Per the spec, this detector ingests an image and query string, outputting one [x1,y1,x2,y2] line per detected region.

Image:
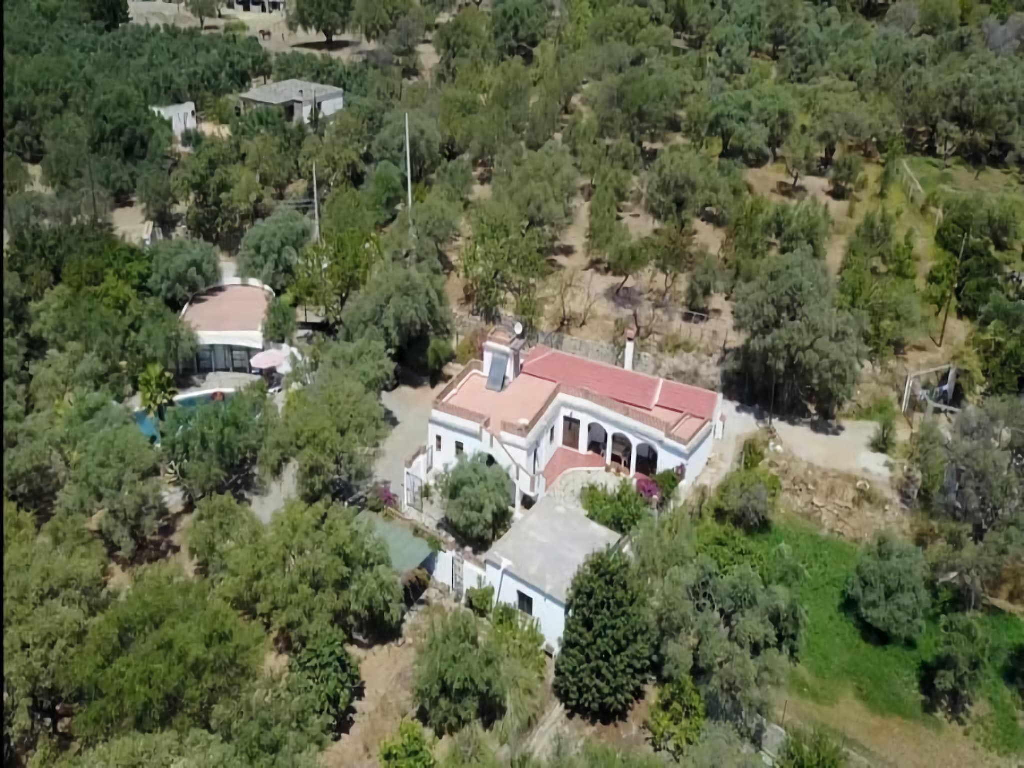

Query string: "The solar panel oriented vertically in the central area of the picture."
[487,355,508,392]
